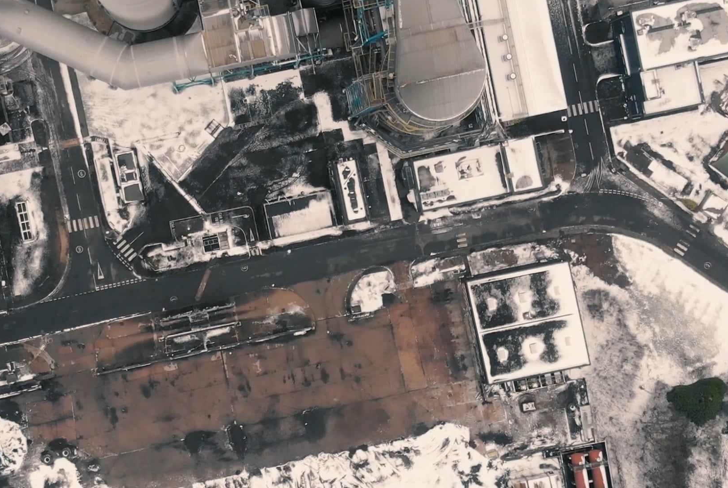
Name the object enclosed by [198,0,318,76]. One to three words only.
house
